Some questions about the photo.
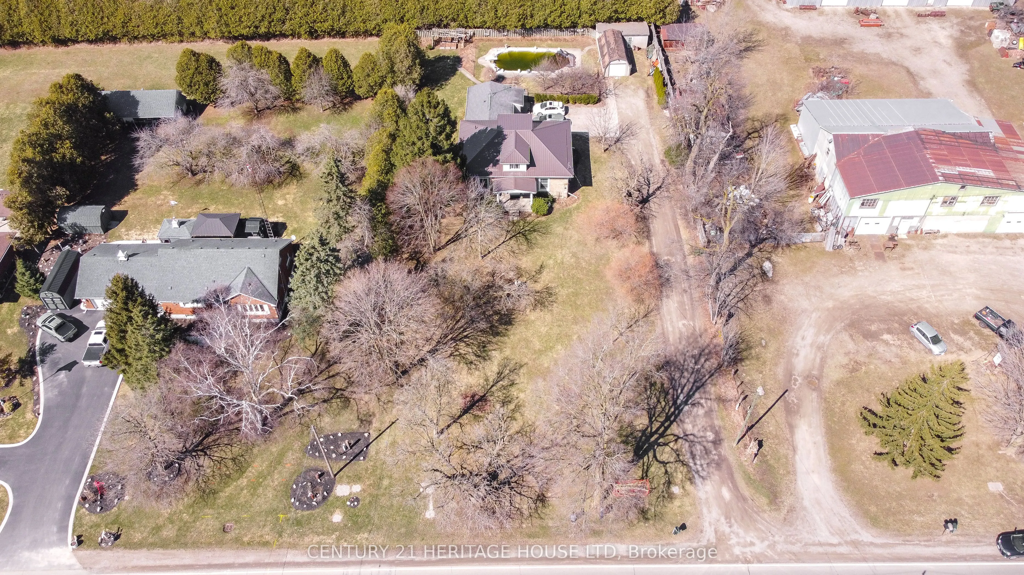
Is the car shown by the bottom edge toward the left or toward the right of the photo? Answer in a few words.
right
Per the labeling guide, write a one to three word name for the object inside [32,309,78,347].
truck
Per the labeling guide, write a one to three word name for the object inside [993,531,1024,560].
car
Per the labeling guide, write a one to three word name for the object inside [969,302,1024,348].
truck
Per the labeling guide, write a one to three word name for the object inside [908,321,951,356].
car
